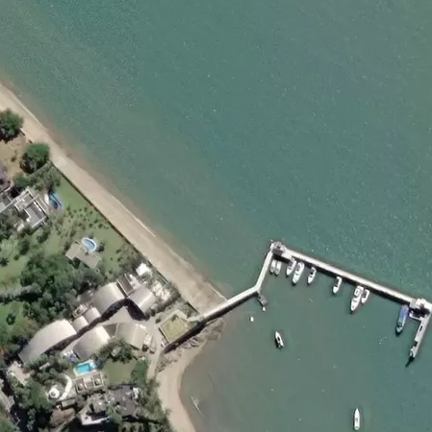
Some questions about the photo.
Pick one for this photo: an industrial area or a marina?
marina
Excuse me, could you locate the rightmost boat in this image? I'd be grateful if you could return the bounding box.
[397,305,409,333]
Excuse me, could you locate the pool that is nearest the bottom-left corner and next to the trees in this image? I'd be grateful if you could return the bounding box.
[73,360,96,377]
